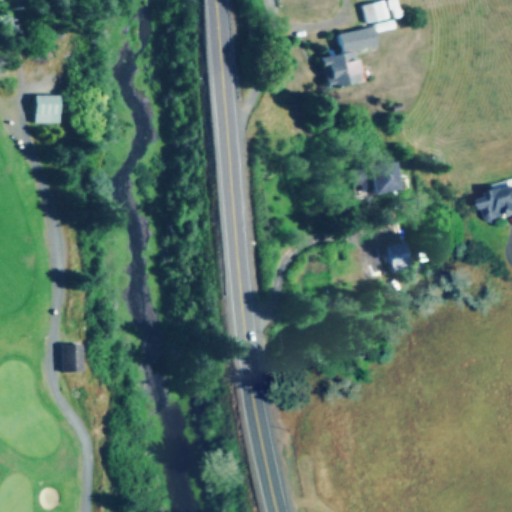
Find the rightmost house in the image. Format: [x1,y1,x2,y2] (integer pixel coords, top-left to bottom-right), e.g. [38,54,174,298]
[474,178,512,224]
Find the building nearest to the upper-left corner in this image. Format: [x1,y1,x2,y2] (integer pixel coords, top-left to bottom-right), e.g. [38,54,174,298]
[34,95,62,124]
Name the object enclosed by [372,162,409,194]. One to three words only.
house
